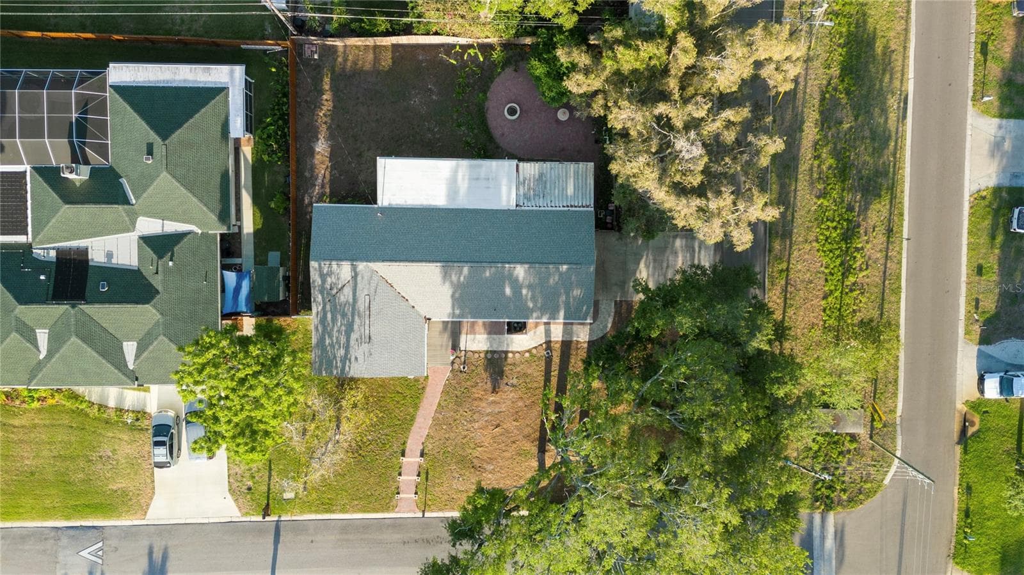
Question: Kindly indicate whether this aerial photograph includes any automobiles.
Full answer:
Yes, an automobile can be made out from above.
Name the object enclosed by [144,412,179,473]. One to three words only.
car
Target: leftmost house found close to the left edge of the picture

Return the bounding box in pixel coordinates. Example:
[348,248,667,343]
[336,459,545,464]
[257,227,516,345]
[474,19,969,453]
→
[0,63,257,389]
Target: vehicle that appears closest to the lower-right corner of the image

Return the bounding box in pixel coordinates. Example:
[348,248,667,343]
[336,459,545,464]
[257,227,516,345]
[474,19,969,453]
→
[980,372,1024,403]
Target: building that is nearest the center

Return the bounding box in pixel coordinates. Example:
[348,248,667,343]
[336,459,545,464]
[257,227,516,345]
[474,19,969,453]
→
[309,155,597,379]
